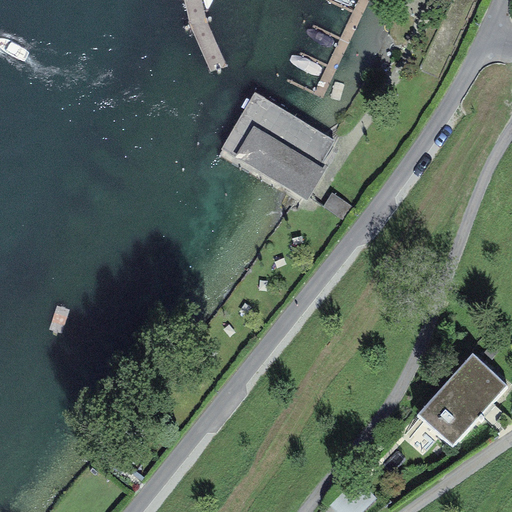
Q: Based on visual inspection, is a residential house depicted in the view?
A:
Yes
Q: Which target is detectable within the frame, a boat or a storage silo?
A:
boat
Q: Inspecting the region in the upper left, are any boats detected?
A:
Yes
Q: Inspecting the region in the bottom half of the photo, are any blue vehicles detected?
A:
No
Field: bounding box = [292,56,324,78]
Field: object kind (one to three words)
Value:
boat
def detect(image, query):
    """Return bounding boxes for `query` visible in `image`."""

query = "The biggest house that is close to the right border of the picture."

[418,354,506,446]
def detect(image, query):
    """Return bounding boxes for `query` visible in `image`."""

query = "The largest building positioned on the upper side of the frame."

[221,92,334,206]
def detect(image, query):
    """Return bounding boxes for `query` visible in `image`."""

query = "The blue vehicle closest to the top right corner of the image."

[434,124,452,146]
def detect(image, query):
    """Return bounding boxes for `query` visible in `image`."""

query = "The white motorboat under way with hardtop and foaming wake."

[0,40,30,62]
